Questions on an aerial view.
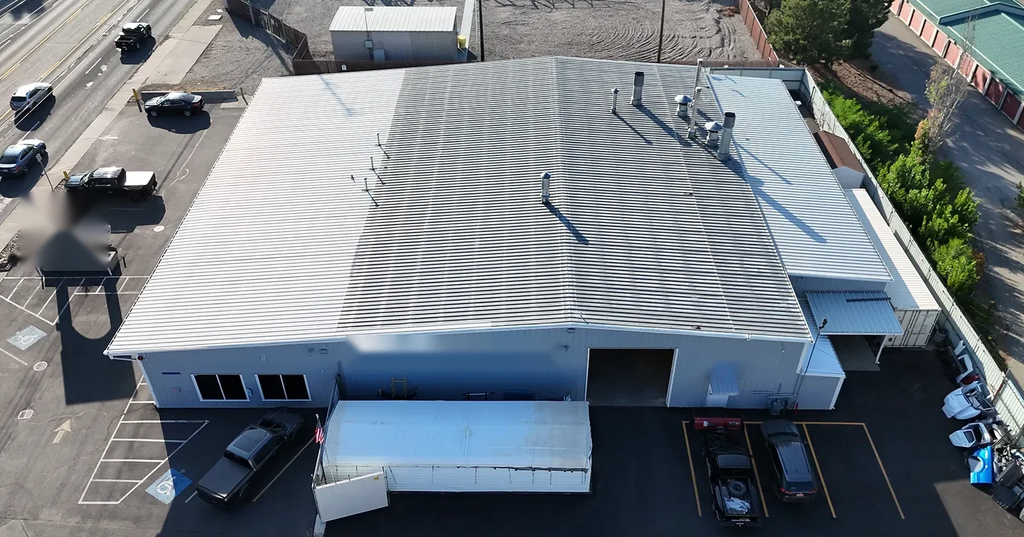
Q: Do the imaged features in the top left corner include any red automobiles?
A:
No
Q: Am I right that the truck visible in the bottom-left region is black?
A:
Yes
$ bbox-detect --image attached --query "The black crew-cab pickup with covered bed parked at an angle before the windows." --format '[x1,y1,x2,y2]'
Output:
[193,406,322,520]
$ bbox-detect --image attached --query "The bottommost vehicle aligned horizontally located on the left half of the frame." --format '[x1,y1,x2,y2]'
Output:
[65,155,166,194]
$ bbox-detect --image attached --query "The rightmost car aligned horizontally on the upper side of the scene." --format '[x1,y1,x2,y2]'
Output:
[138,88,211,115]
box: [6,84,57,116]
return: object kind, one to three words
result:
car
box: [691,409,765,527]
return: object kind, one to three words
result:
truck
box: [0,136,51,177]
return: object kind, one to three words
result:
car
